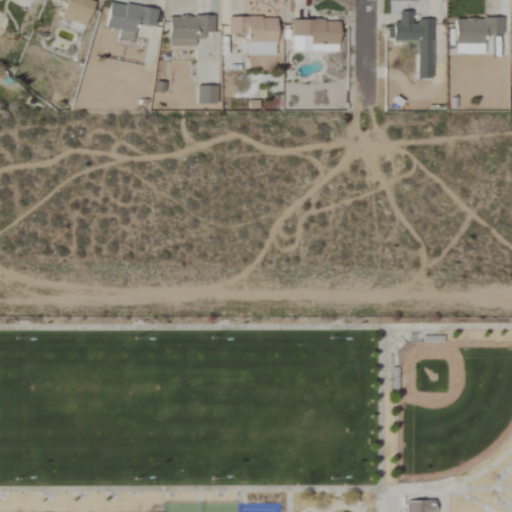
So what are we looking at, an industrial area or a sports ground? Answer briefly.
sports ground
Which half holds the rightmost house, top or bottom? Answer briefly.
top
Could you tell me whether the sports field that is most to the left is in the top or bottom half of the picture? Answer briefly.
bottom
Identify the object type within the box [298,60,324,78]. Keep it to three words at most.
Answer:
swimming pool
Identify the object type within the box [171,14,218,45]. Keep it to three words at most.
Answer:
house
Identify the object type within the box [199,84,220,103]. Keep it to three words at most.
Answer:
building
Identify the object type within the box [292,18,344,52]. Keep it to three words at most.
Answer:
house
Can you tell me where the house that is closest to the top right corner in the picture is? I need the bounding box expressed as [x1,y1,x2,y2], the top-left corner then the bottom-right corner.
[457,16,507,54]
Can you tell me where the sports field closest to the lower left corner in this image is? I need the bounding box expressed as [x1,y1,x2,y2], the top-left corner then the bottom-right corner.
[0,330,378,486]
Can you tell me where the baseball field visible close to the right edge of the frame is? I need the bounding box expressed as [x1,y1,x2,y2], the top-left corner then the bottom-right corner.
[399,342,512,482]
